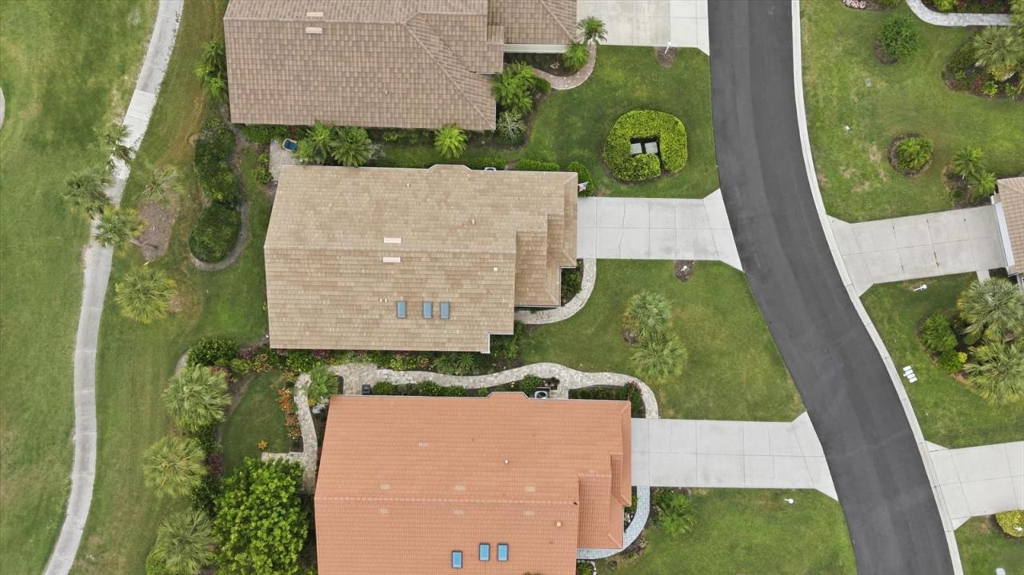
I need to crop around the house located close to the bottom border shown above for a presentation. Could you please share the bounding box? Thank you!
[314,391,632,575]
